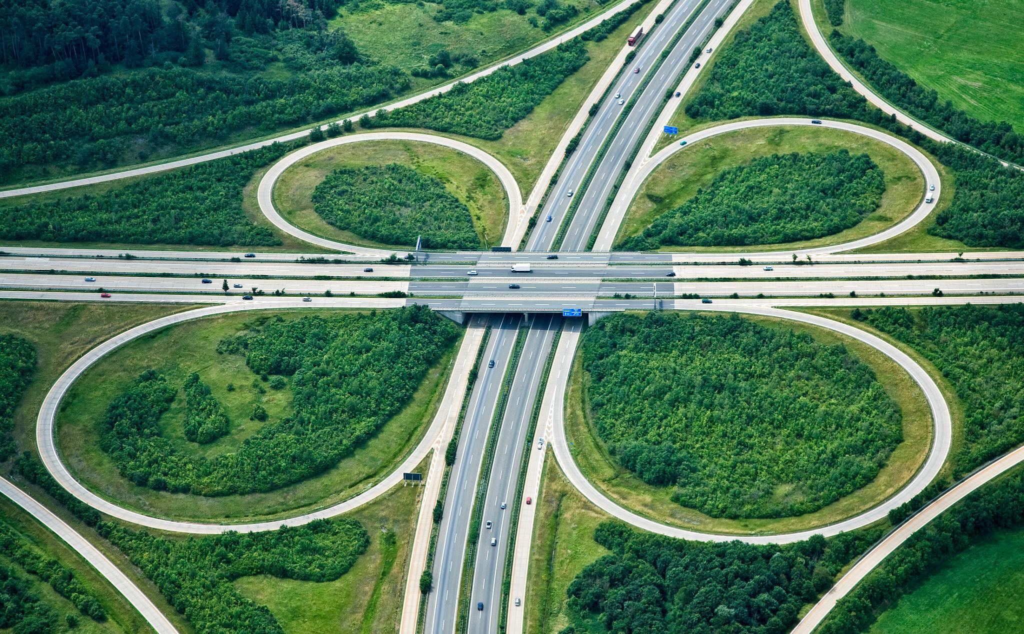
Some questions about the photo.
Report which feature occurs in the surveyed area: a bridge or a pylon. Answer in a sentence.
The one in the frame is a bridge.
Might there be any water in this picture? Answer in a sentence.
No, there's no water in this view.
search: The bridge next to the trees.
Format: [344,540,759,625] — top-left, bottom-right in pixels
[430,250,642,324]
